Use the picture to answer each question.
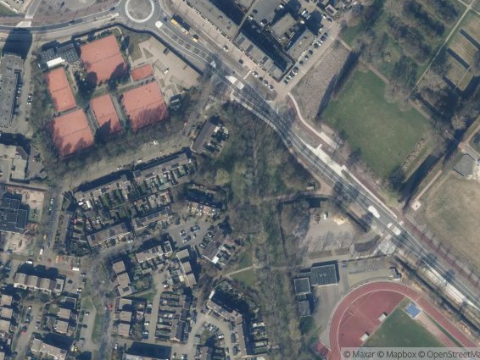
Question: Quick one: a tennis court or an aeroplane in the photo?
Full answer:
Visible in the photo is a tennis court.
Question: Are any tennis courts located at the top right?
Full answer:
No, there is no tennis court at the top right.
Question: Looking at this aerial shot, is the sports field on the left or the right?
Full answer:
It is on the right.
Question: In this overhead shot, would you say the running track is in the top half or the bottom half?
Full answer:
Seen from above, the running track lies in the bottom half of the view.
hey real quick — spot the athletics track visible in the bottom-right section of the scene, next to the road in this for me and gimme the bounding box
[328,281,480,360]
